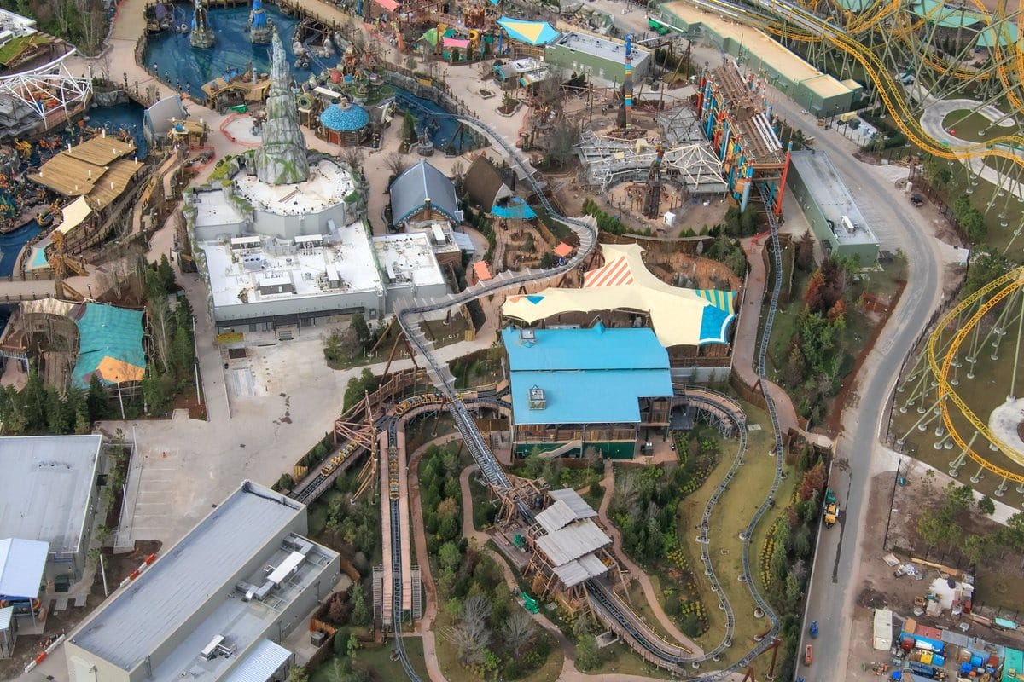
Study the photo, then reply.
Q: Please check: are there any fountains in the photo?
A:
Yes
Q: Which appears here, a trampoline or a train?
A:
train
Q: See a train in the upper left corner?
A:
No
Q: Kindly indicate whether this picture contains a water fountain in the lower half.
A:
No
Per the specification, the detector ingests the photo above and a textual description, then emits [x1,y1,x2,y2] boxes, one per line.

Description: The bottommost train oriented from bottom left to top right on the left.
[316,437,369,479]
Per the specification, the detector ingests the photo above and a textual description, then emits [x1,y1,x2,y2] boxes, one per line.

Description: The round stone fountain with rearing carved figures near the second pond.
[410,130,441,161]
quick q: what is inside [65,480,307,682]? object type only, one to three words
warehouse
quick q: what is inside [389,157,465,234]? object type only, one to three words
barn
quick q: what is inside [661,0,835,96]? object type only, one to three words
building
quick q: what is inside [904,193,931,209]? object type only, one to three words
vehicle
